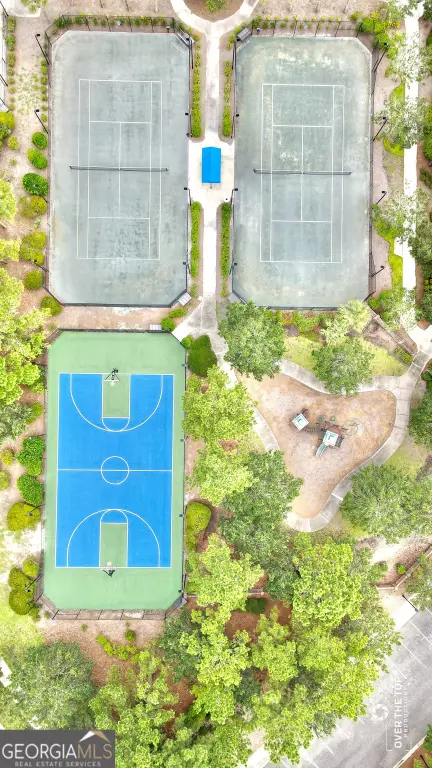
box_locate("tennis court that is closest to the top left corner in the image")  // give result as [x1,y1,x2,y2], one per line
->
[49,31,190,304]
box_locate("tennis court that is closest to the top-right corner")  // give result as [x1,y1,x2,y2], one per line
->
[234,36,371,307]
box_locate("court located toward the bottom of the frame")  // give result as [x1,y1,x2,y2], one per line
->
[44,331,186,610]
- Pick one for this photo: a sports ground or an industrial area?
sports ground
